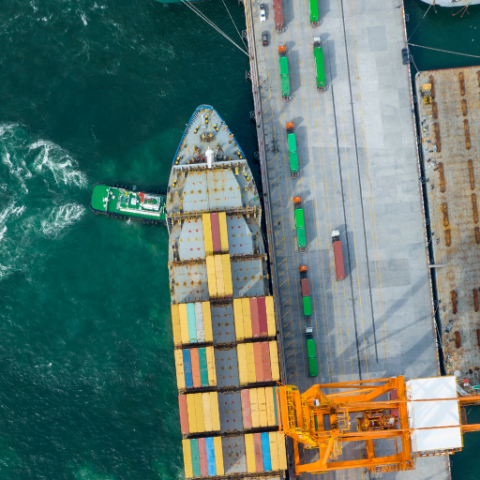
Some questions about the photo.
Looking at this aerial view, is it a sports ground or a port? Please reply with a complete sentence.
The area seen from above is a port.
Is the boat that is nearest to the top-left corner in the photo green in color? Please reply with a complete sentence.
Yes, green is the color of the boat that is nearest to the top-left corner.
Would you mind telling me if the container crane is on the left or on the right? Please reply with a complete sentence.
It is on the right.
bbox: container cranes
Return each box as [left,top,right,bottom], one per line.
[279,372,480,480]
